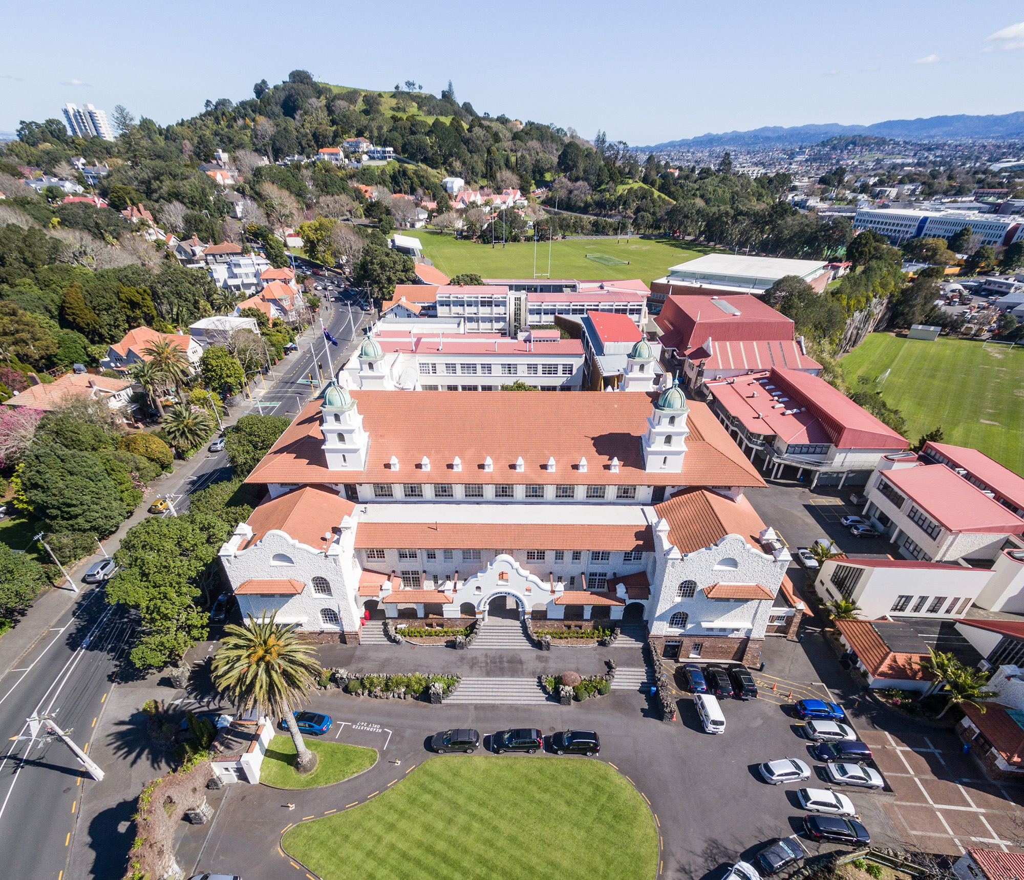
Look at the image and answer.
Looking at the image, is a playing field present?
Yes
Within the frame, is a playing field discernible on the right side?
Yes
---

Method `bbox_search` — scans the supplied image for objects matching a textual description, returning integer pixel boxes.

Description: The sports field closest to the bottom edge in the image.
[840,333,1024,460]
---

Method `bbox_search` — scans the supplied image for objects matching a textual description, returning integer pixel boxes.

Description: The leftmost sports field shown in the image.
[361,227,736,289]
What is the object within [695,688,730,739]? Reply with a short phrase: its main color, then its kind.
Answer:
white vehicle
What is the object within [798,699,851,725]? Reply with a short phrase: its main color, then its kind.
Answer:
blue car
